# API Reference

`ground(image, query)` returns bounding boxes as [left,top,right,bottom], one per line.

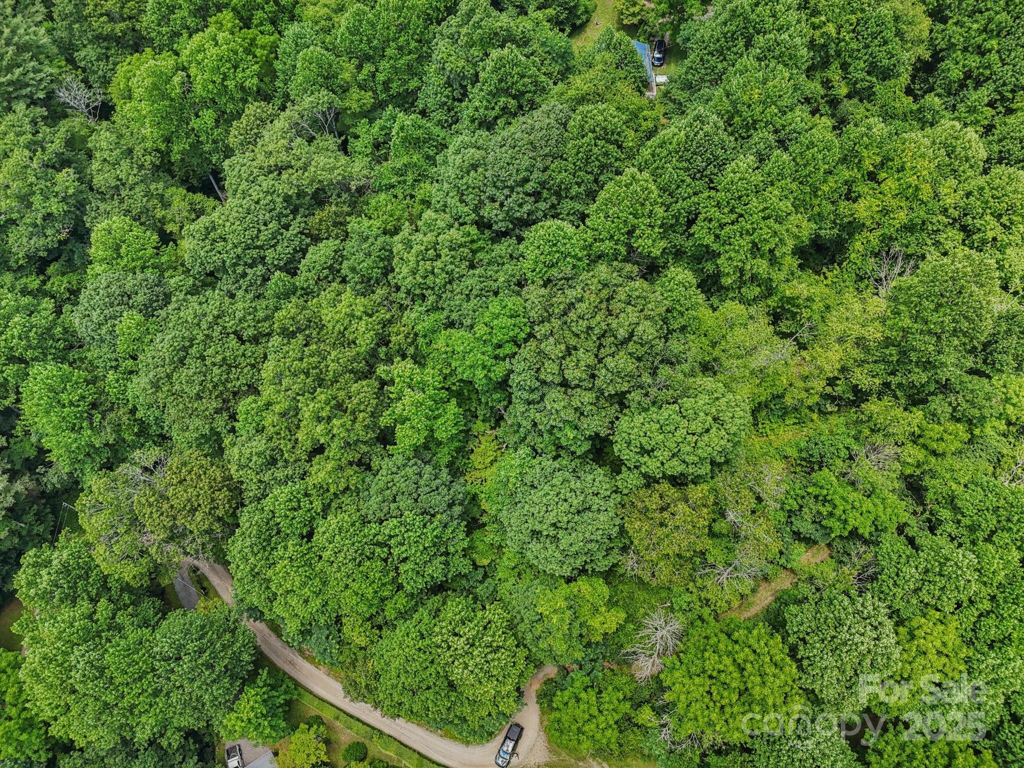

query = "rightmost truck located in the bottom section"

[494,720,524,768]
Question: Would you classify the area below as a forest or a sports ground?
forest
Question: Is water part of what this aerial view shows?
No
